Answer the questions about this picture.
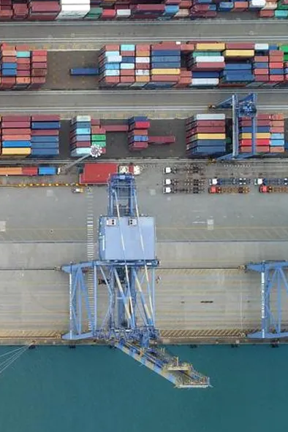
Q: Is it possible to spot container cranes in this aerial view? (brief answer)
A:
Yes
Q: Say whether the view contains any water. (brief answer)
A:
Yes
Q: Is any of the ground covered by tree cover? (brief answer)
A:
No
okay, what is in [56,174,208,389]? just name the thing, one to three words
container crane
